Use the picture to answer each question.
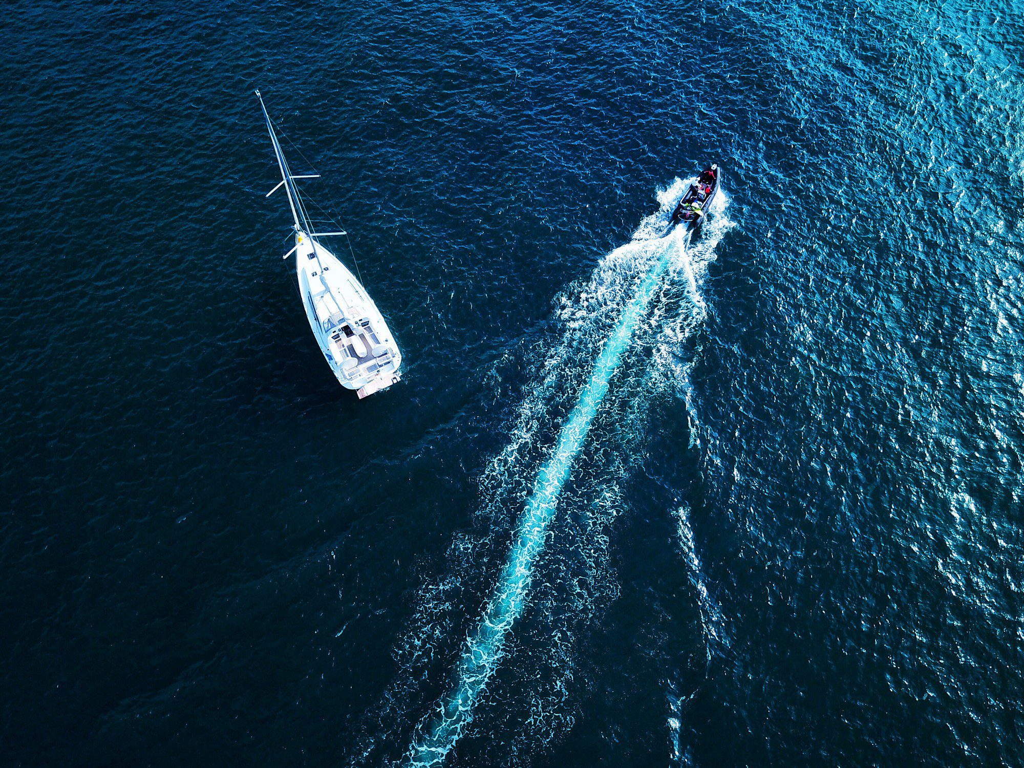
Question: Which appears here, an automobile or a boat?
boat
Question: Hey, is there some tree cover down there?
No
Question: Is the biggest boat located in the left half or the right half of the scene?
left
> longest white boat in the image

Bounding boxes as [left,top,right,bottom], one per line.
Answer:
[252,88,401,399]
